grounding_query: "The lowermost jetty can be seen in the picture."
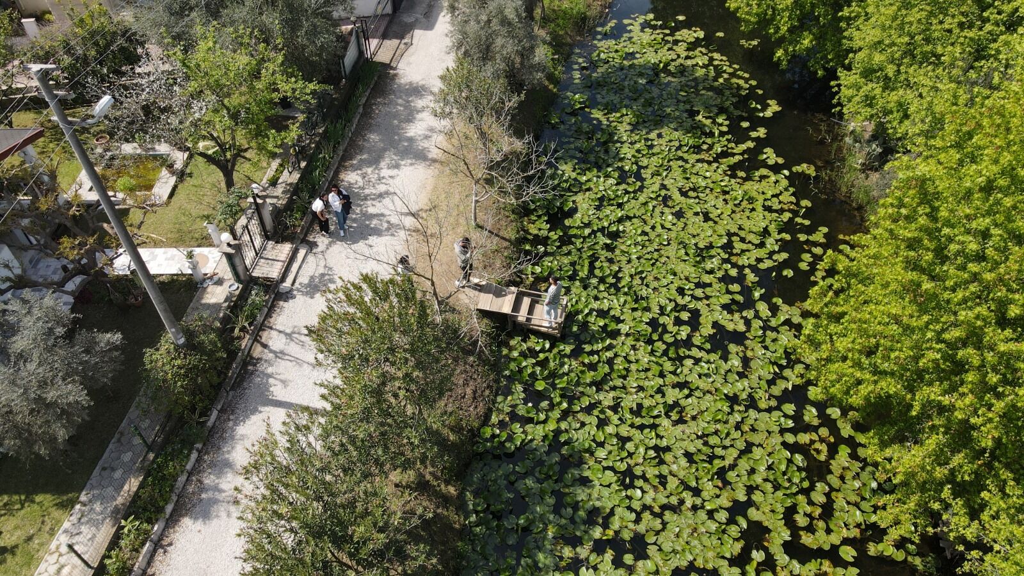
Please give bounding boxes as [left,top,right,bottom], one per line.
[468,279,568,348]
